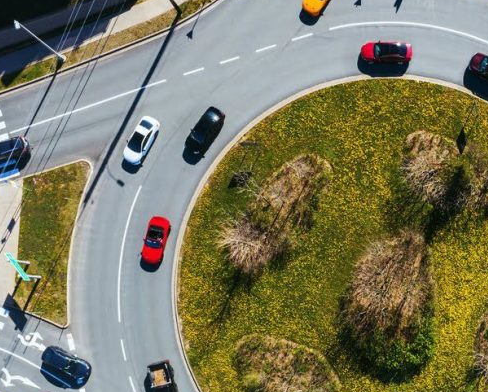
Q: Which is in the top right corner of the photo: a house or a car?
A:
car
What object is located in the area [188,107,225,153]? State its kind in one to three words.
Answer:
car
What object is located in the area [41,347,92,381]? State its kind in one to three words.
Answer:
car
